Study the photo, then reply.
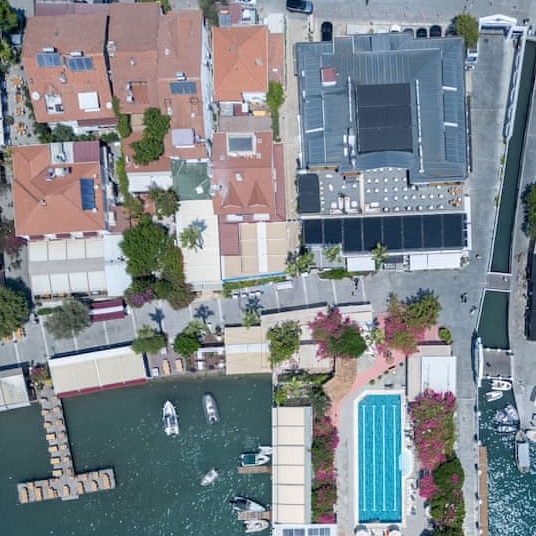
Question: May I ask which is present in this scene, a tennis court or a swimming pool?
swimming pool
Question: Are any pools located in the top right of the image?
No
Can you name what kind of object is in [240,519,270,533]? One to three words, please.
boat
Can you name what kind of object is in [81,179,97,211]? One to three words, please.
solar panel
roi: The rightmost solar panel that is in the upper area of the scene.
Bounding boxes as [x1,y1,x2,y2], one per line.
[169,82,197,96]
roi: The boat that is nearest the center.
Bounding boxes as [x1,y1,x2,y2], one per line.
[202,393,221,427]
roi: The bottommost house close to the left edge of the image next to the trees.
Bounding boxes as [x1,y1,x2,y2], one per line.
[11,142,115,239]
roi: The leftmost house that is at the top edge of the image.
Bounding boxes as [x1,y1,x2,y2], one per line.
[21,2,126,133]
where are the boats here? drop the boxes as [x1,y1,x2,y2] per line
[515,433,530,474]
[163,401,179,439]
[480,392,505,403]
[490,409,509,426]
[503,401,518,424]
[202,393,221,427]
[240,519,270,533]
[201,468,220,483]
[525,432,536,443]
[486,380,513,391]
[227,493,266,512]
